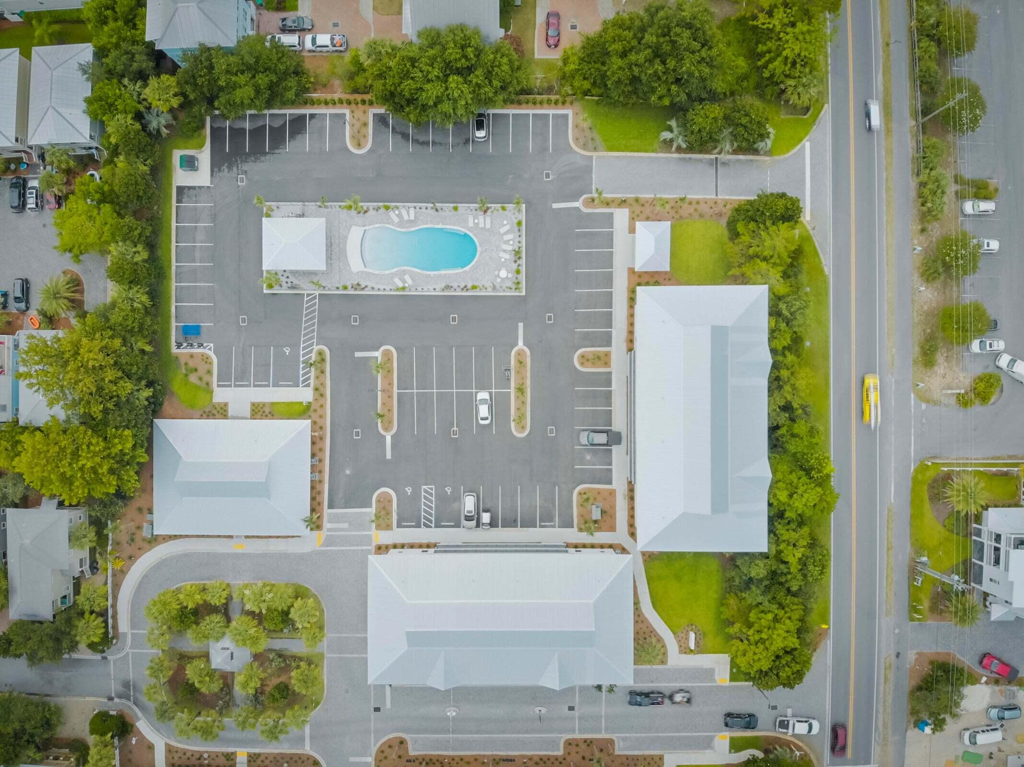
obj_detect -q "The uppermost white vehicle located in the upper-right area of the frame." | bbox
[862,96,883,134]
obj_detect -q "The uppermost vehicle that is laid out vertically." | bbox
[545,10,561,48]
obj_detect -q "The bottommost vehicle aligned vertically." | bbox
[830,722,849,760]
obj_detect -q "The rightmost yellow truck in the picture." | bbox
[861,374,885,427]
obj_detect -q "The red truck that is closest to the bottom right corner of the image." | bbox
[976,651,1024,684]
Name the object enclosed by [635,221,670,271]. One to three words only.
building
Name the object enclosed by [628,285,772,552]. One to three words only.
building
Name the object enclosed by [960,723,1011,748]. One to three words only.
vehicle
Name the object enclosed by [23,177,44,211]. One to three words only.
car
